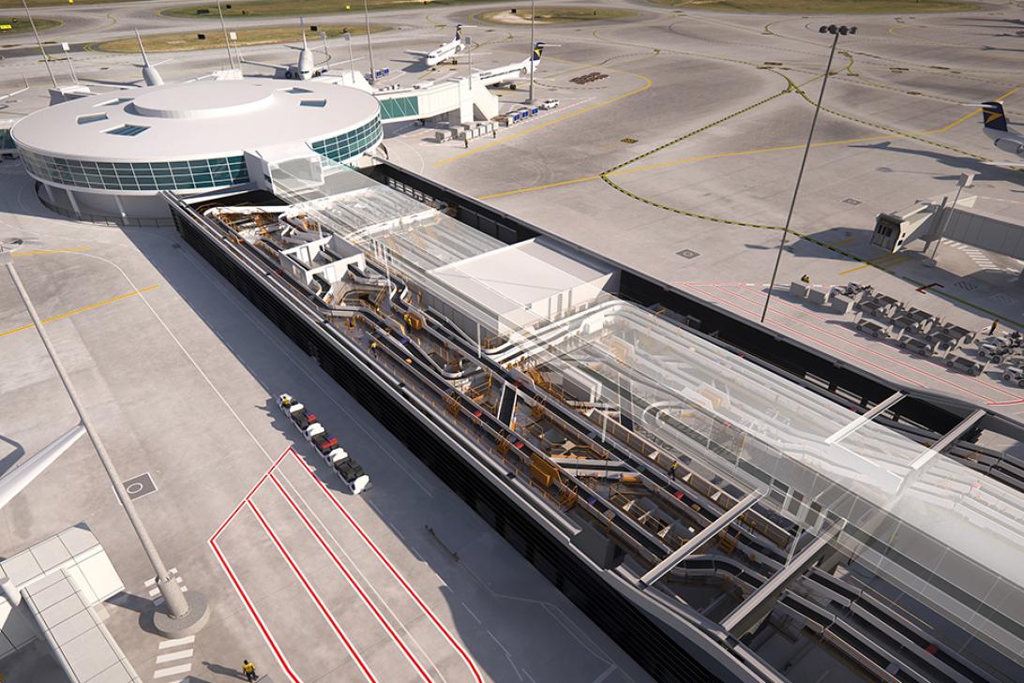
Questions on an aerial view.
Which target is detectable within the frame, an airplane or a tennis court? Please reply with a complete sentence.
The one in the frame is an airplane.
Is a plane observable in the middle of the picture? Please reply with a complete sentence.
No, looking in the middle of the picture, there is no plane.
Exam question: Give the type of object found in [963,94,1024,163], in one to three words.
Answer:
airplane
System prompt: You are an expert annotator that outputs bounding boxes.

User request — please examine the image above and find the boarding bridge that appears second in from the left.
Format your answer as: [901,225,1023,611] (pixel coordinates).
[376,83,465,127]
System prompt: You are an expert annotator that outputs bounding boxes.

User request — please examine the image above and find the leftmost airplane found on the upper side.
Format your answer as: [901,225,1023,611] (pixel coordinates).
[83,28,207,86]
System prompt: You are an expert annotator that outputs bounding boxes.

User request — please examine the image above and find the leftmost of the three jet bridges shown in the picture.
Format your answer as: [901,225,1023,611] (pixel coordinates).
[0,524,165,683]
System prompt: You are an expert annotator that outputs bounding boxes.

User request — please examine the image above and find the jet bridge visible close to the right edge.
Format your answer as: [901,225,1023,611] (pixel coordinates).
[868,176,1024,258]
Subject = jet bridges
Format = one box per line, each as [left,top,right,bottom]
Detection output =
[868,176,1024,258]
[0,524,165,683]
[376,83,465,127]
